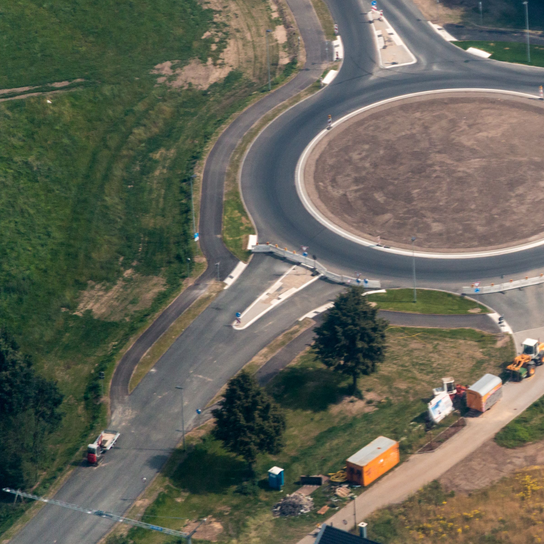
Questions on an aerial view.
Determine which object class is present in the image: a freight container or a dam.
freight container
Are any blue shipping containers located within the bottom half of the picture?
No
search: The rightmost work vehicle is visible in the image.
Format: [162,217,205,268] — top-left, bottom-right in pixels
[502,334,544,387]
